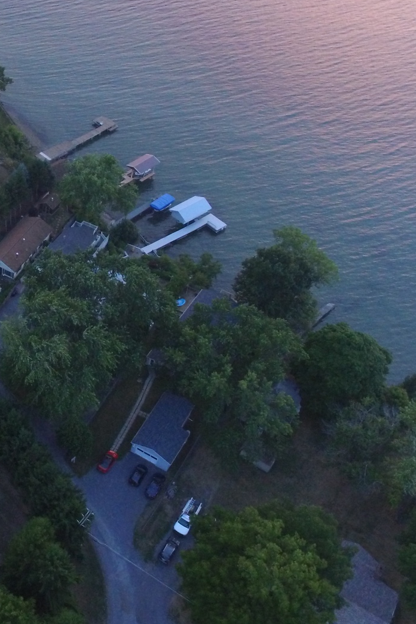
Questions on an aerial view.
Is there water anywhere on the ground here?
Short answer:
Yes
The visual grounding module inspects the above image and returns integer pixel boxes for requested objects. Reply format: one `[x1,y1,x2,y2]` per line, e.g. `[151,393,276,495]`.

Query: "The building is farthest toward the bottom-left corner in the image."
[131,394,191,474]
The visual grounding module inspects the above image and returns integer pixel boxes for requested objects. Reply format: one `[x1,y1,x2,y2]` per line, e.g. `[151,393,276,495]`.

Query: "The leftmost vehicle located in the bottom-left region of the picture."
[99,450,119,474]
